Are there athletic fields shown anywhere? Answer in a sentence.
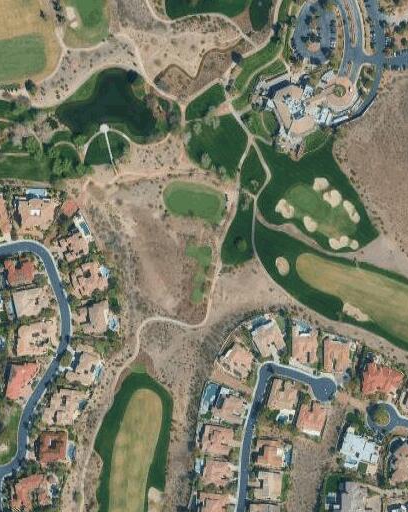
No, there's no athletic field here.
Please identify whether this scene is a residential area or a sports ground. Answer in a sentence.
It's a residential area.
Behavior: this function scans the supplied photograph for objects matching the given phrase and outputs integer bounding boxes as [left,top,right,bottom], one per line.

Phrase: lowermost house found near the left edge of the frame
[10,469,55,512]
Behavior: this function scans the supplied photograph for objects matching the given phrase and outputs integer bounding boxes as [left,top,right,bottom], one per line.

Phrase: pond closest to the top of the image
[58,67,156,147]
